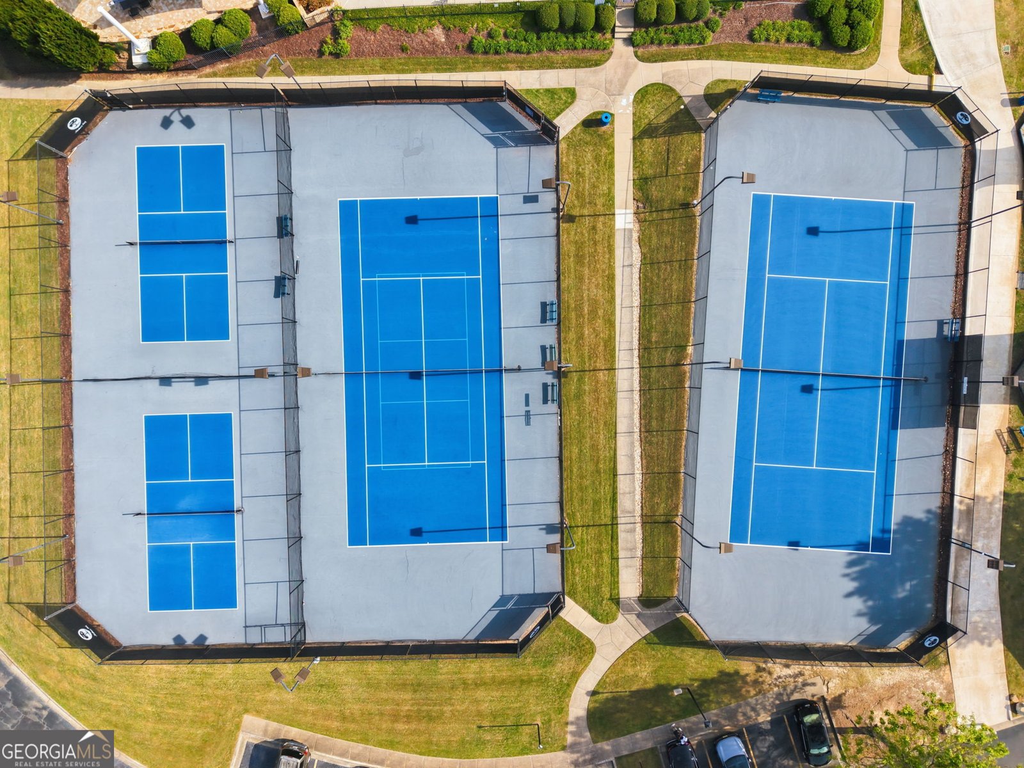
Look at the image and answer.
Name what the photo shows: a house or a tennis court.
tennis court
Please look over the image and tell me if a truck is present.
No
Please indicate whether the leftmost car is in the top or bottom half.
bottom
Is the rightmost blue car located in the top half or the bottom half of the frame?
bottom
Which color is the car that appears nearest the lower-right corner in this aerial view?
black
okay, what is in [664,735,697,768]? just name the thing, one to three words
car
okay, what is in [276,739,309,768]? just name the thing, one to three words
car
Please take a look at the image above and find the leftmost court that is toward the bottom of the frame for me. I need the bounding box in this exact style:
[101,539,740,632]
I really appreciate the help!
[71,376,306,646]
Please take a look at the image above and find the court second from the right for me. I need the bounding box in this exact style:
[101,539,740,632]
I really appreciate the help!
[291,101,560,643]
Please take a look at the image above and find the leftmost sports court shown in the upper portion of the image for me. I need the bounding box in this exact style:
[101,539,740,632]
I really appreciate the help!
[67,105,298,379]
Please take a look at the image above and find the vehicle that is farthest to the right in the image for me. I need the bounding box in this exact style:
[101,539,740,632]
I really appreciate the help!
[791,695,833,766]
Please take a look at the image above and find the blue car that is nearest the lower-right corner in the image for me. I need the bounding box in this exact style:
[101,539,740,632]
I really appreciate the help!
[716,731,754,768]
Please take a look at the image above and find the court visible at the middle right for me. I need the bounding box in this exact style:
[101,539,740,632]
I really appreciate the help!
[678,91,965,647]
